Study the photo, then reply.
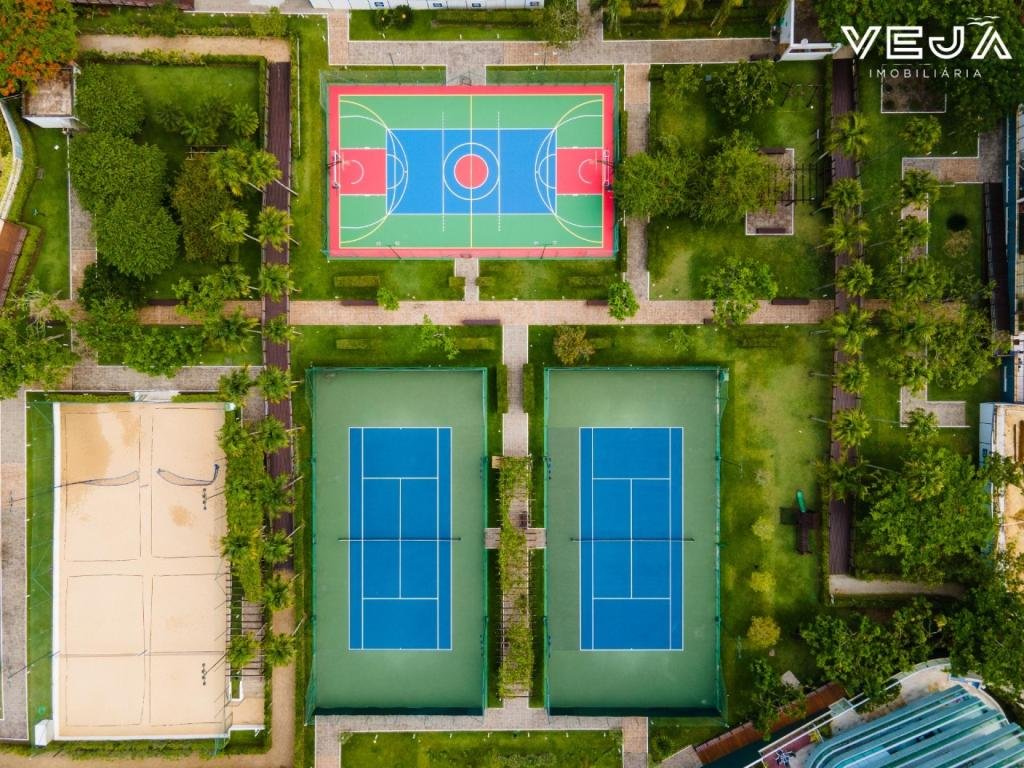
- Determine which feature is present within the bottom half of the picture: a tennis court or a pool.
tennis court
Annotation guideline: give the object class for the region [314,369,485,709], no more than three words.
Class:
tennis court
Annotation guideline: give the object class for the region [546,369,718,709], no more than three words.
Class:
tennis court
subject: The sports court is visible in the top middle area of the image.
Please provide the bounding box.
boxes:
[329,85,614,258]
